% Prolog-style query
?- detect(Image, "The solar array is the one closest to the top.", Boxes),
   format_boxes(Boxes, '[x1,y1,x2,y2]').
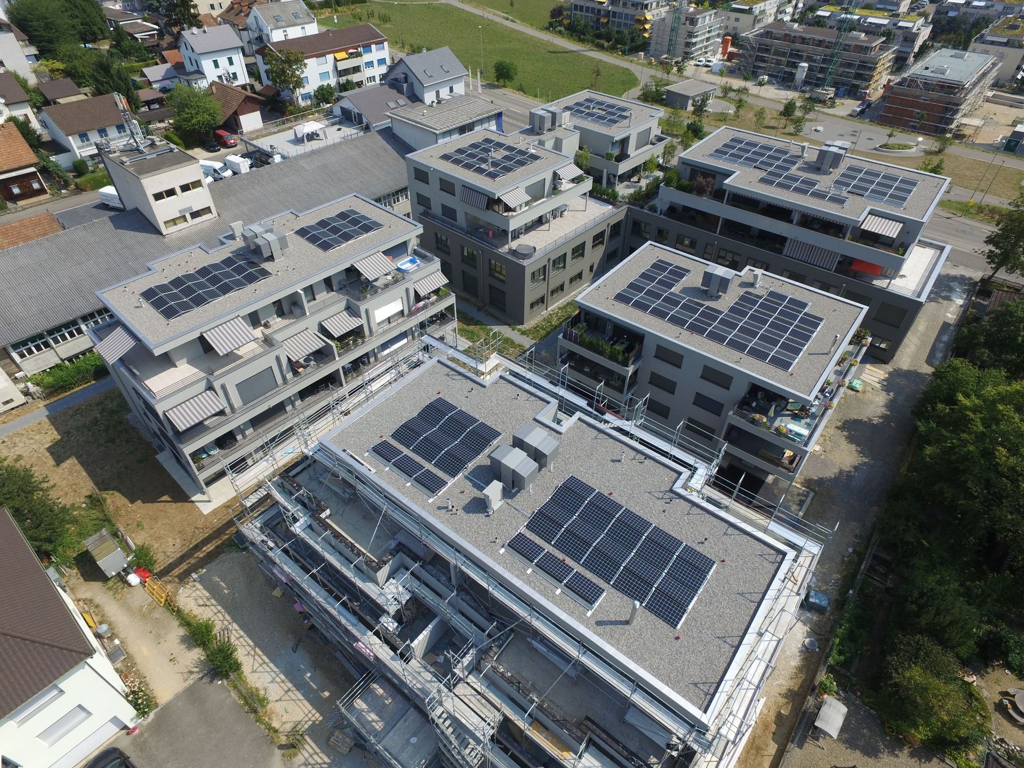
[559,96,636,127]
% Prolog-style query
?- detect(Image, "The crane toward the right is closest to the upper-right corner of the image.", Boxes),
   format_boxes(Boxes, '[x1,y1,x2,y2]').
[813,0,868,102]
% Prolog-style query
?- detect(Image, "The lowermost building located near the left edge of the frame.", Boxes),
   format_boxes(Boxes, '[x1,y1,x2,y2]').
[0,495,138,768]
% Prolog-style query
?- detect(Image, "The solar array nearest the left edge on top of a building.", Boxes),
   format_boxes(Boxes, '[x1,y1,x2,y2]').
[138,247,283,321]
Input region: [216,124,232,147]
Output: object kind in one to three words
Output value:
vehicle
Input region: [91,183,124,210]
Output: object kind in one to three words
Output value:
vehicle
